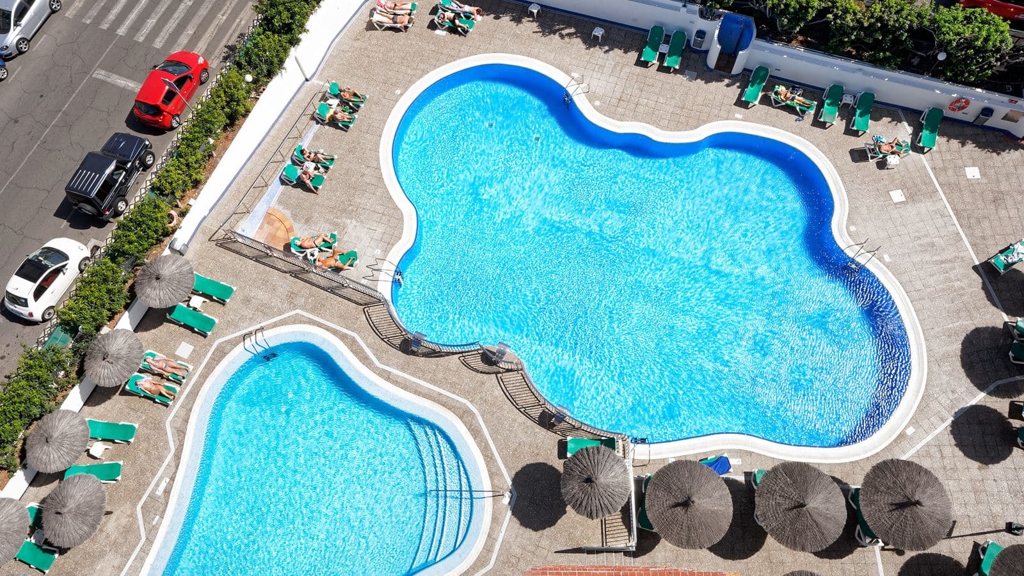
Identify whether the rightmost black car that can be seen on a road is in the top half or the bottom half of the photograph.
top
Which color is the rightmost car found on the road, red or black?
red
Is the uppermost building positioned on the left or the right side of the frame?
right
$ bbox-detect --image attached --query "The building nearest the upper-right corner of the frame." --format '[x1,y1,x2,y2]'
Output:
[708,9,762,78]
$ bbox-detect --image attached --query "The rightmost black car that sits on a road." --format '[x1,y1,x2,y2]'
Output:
[64,136,154,215]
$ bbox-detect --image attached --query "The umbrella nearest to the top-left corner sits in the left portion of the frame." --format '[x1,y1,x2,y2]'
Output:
[134,254,194,311]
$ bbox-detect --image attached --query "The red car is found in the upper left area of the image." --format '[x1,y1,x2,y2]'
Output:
[128,52,209,133]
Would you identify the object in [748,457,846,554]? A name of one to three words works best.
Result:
umbrella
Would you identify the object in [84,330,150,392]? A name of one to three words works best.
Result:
umbrella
